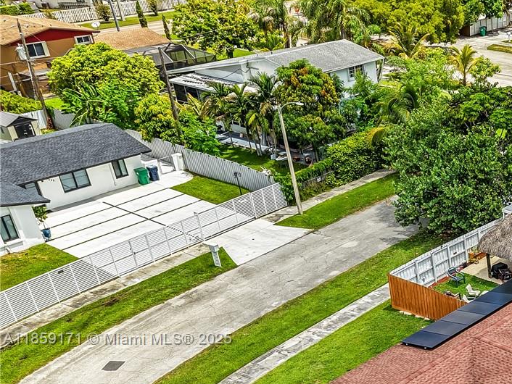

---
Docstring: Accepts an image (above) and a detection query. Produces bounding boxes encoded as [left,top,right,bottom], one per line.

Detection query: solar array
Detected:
[402,279,512,345]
